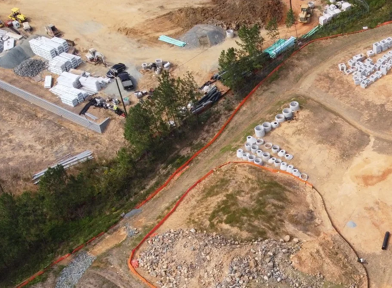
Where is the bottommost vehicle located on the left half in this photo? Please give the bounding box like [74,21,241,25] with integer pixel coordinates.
[116,69,134,86]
